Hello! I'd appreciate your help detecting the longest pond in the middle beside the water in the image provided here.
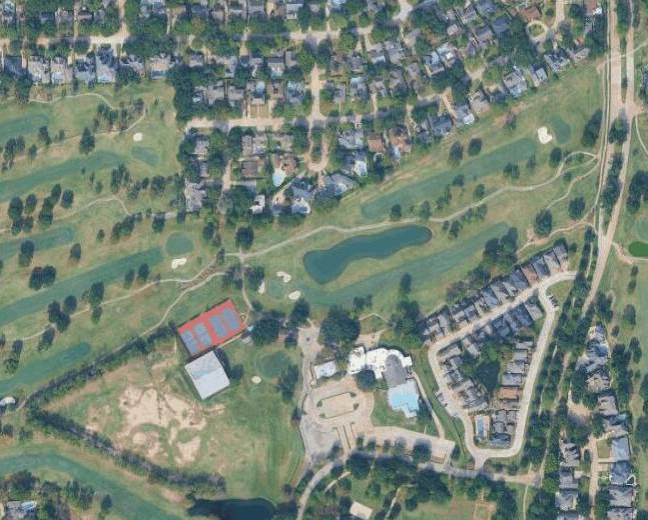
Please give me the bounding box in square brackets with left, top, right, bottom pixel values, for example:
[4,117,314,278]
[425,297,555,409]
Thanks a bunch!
[300,220,435,286]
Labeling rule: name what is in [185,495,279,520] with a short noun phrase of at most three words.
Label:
pond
